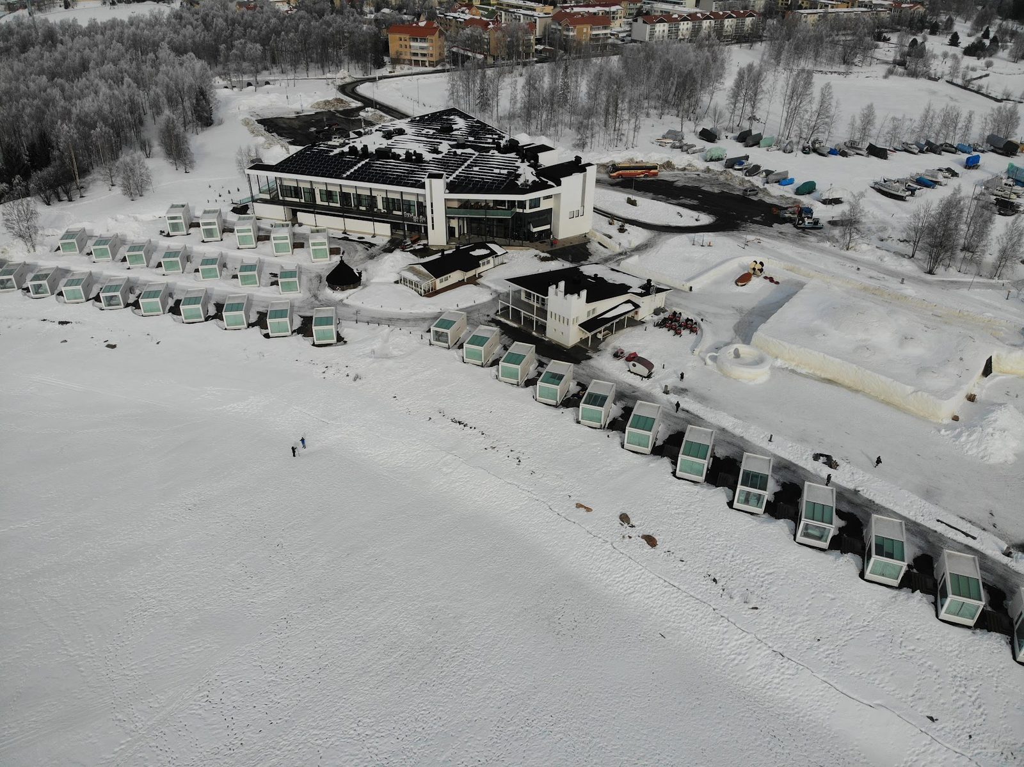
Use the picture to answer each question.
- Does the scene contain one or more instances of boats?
Yes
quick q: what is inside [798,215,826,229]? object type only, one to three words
boat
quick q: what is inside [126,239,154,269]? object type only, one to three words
building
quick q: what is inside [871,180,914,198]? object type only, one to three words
boat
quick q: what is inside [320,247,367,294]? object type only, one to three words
shed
